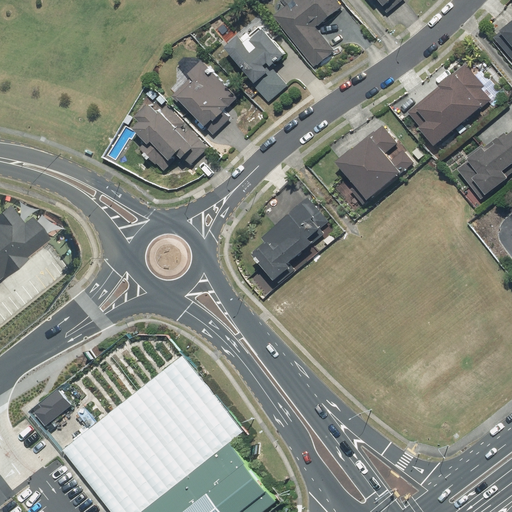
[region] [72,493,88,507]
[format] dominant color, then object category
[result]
gray car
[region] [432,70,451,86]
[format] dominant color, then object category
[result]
white vehicle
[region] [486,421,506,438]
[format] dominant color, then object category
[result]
white vehicle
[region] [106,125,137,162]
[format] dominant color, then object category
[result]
blue swimming pool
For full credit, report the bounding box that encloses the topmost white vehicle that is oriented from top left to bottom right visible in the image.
[198,160,216,180]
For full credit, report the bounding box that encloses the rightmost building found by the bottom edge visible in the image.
[140,432,282,512]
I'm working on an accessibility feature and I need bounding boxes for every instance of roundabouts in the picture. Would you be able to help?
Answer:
[145,234,192,280]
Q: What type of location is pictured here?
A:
residential area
